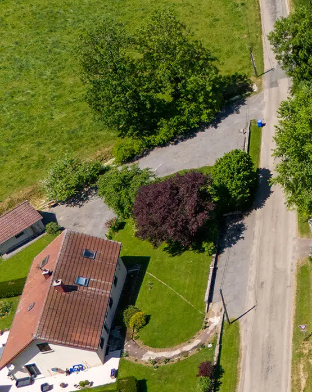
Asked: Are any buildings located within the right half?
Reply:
No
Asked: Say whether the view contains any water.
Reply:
No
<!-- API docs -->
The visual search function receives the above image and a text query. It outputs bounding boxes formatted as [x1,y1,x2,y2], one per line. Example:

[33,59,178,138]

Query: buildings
[0,198,46,256]
[0,228,125,377]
